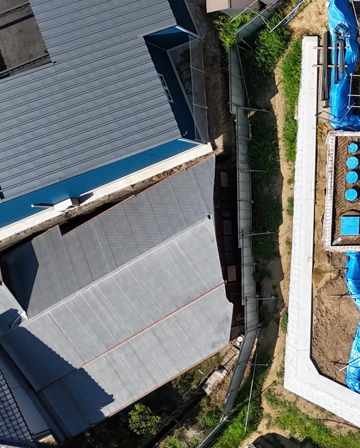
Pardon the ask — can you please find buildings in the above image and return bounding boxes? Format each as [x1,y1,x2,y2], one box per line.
[0,154,243,438]
[207,0,269,15]
[0,0,216,223]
